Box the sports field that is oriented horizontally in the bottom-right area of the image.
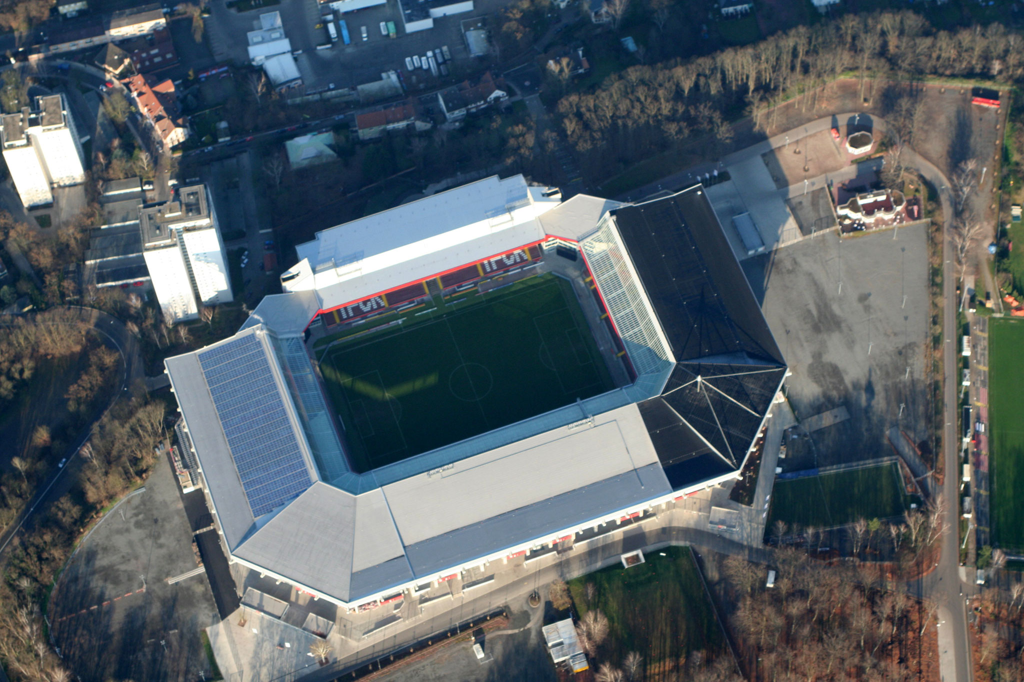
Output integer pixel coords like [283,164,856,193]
[764,456,912,547]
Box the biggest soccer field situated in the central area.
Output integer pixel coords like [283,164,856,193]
[318,271,616,472]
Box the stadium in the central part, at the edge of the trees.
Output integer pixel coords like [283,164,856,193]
[164,169,790,608]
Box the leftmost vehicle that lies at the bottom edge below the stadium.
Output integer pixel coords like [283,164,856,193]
[473,642,485,660]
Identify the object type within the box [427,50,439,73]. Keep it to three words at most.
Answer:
vehicle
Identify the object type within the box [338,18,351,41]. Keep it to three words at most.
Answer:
vehicle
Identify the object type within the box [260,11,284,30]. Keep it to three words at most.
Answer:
building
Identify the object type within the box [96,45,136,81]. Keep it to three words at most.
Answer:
house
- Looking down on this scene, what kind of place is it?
sports ground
